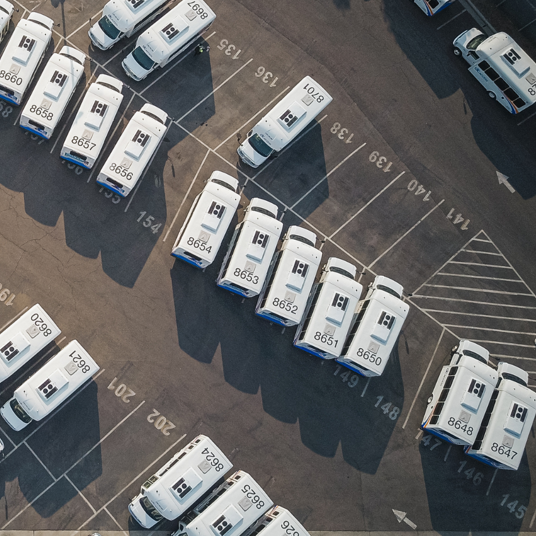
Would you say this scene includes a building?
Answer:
No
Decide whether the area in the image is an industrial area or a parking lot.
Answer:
parking lot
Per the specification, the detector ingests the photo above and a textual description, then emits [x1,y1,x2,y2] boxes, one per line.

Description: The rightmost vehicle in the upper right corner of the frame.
[453,21,536,117]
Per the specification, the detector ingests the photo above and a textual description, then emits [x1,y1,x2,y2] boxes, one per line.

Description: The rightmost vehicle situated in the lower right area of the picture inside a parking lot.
[461,363,536,470]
